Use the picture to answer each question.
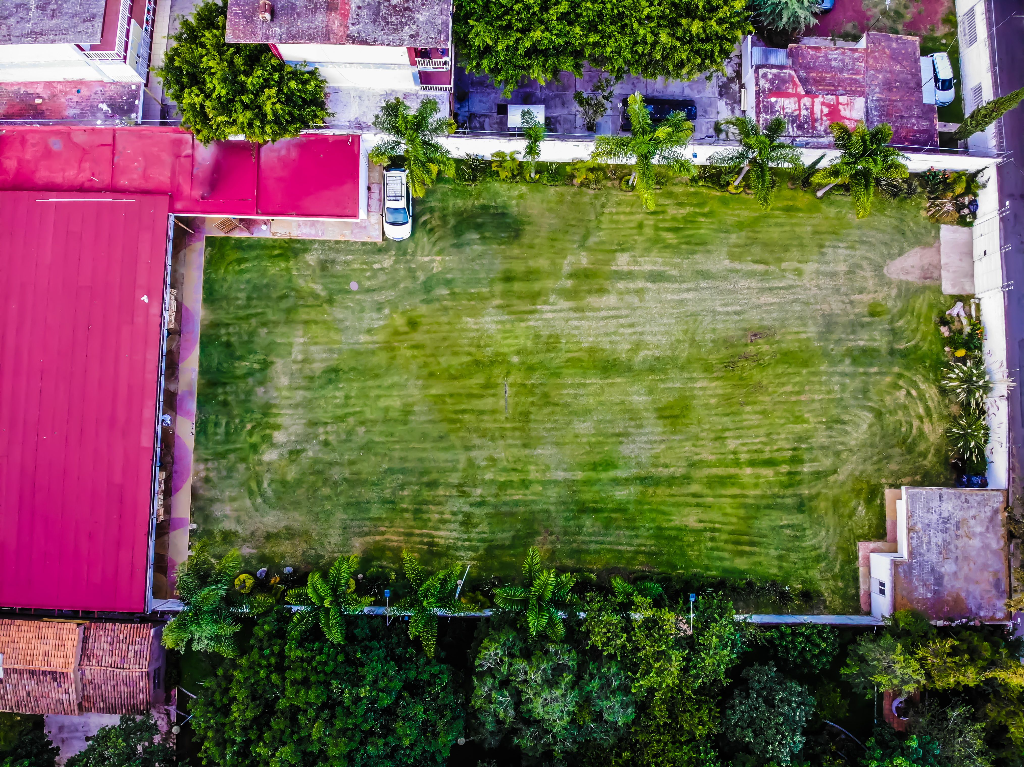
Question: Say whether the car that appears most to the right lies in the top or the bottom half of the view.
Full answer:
It is in the top half that the car that appears most to the right appears.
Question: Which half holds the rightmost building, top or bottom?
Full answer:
Seen from above, the rightmost building lies in the bottom half of the view.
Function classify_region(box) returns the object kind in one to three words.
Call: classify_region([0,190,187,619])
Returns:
building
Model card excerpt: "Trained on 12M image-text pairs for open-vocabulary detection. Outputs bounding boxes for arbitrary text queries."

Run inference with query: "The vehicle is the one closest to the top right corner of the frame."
[932,47,969,105]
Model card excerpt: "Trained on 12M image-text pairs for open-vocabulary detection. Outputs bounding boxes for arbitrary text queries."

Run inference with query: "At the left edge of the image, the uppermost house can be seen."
[0,0,160,125]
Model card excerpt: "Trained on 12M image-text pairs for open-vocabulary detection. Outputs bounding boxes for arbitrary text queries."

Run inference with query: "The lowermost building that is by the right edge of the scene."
[871,485,1015,624]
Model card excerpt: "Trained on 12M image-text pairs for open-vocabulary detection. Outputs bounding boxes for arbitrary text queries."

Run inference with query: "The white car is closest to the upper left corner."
[377,164,413,238]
